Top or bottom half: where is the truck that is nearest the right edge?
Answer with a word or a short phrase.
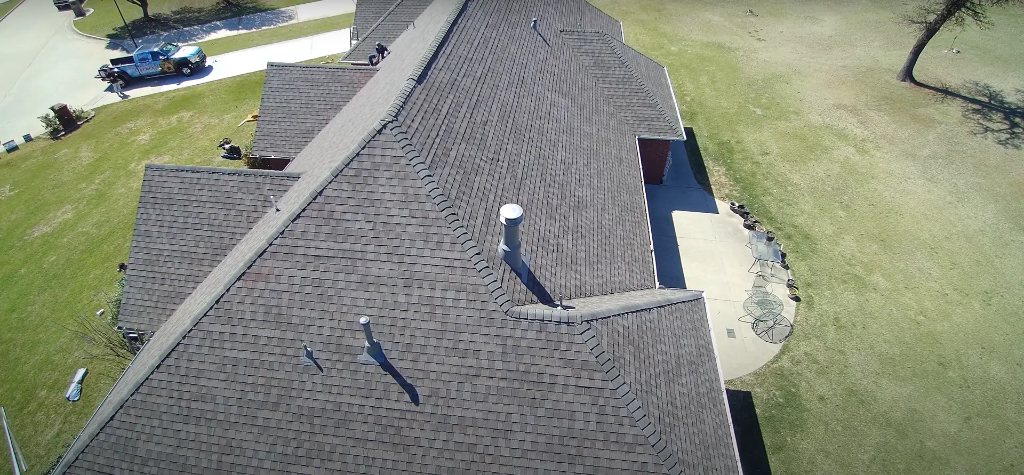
top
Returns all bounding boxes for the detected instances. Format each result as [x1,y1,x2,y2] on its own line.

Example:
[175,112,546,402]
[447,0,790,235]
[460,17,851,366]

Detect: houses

[29,0,745,475]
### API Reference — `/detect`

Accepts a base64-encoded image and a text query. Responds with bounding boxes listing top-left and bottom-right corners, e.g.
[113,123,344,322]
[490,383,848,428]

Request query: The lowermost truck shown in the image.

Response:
[98,39,204,87]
